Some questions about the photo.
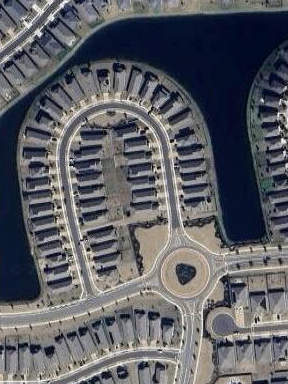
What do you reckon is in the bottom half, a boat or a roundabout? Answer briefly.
roundabout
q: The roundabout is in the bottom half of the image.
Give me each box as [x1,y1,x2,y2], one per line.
[154,240,216,305]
